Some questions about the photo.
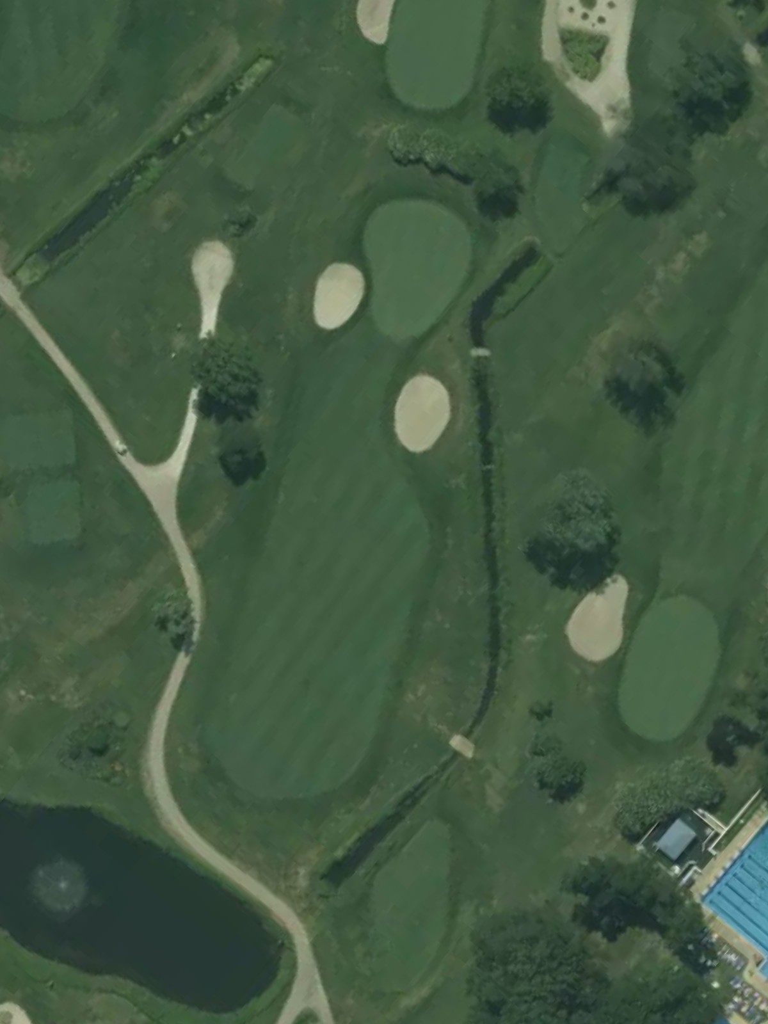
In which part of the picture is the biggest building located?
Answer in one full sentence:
The biggest building sits in the bottom right section of the image.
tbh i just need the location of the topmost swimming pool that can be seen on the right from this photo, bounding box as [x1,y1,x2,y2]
[707,818,768,974]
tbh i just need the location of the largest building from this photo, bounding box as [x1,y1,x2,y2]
[658,820,696,861]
